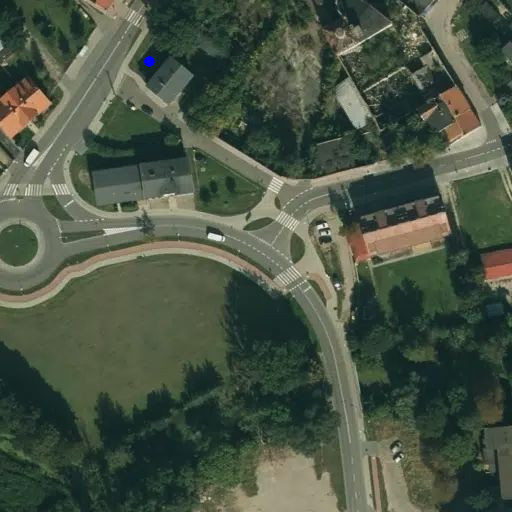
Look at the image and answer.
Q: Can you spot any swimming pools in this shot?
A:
No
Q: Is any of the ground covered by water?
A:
No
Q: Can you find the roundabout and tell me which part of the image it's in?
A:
left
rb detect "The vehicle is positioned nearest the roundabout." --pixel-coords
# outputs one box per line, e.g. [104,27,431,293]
[24,148,40,166]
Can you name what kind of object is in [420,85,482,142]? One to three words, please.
house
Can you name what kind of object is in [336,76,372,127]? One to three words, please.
barn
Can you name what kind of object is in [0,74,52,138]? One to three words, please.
house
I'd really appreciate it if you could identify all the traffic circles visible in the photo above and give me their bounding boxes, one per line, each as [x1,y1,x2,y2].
[0,201,61,289]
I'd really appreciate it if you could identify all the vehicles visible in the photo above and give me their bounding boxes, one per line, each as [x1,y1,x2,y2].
[316,222,330,230]
[390,440,402,453]
[78,44,90,58]
[24,148,40,166]
[394,452,406,464]
[124,98,136,108]
[208,232,225,242]
[319,236,332,244]
[318,229,332,237]
[80,7,90,19]
[334,280,342,292]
